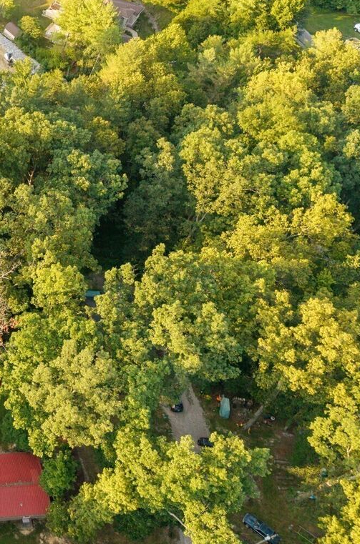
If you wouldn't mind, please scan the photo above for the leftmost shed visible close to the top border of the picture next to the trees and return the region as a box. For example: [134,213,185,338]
[4,25,27,45]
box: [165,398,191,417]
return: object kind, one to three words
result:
car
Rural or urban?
rural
